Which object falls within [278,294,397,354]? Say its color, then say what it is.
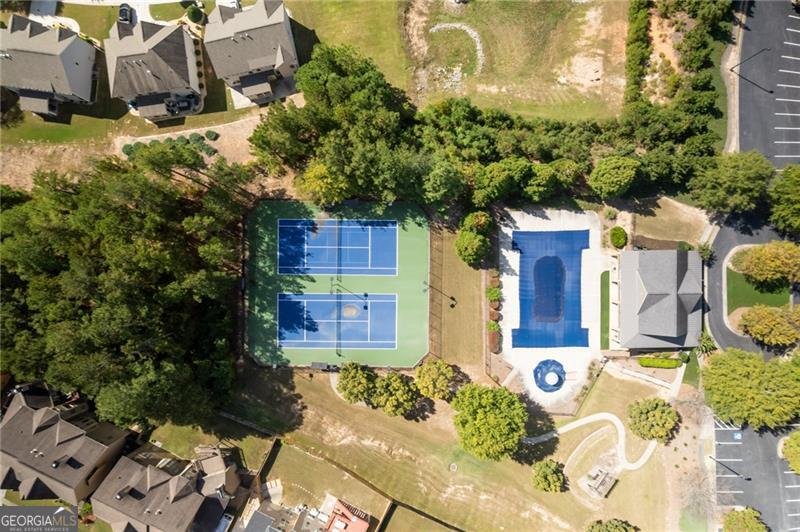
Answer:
blue tennis court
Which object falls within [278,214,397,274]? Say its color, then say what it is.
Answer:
blue tennis court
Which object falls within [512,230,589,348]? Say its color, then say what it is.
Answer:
blue swimming pool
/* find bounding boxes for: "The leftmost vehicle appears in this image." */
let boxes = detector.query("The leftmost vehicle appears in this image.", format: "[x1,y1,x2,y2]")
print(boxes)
[118,1,131,20]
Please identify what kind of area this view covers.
residential area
